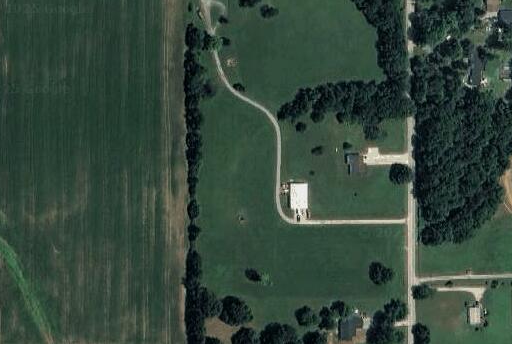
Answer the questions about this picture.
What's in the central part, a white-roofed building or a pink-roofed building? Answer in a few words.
white-roofed building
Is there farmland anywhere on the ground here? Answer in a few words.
Yes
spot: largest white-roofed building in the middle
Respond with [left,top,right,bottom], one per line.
[290,183,308,209]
